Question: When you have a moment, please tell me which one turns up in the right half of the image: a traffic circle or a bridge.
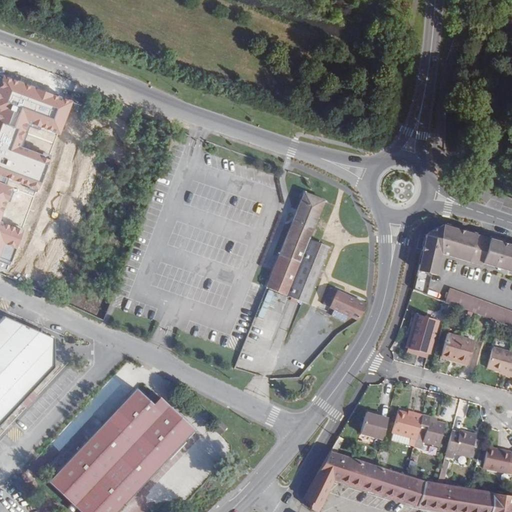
traffic circle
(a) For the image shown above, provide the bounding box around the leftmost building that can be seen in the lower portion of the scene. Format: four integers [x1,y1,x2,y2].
[0,318,54,423]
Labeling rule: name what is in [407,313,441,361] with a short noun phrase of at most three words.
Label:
house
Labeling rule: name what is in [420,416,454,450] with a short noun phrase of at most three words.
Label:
house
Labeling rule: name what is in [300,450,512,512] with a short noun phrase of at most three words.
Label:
building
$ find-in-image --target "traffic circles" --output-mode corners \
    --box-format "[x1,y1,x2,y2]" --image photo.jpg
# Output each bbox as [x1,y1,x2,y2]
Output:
[360,148,439,226]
